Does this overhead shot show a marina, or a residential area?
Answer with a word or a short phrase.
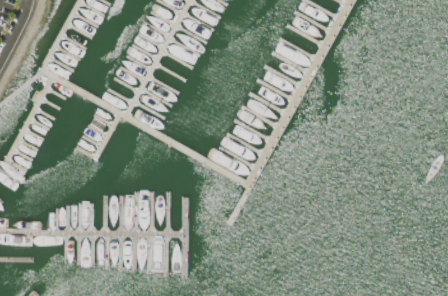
marina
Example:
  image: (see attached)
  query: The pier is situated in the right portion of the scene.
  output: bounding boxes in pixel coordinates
[226,0,356,224]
